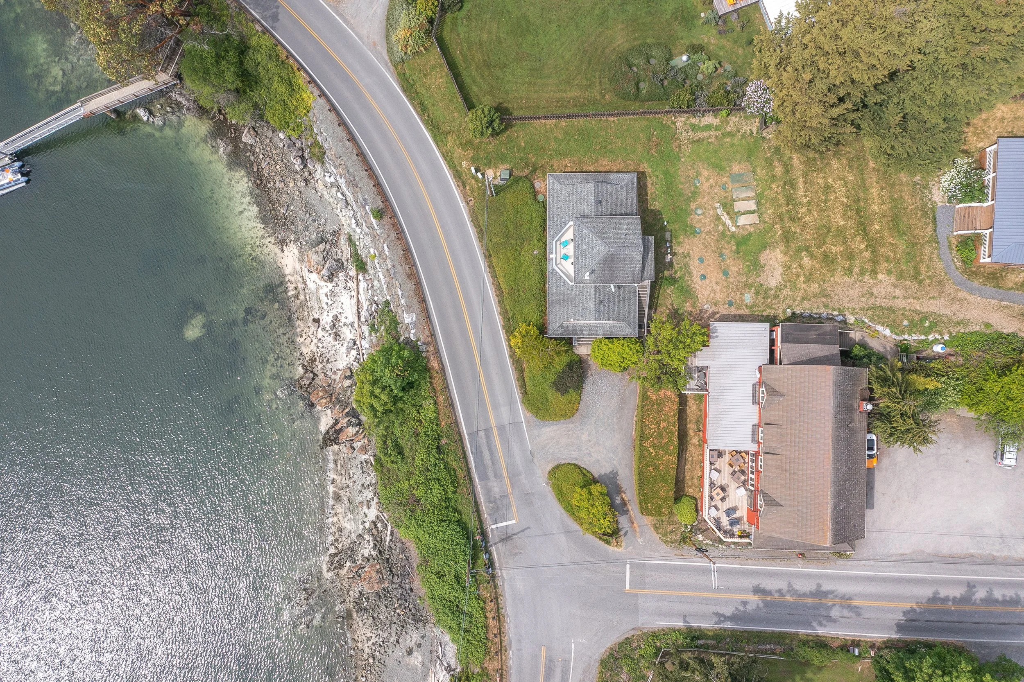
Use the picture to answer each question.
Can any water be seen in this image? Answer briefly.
Yes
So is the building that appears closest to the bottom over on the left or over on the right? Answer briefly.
right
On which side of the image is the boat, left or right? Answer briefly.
left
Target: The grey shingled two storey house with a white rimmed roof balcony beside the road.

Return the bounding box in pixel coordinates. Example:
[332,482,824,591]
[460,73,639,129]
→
[546,172,654,351]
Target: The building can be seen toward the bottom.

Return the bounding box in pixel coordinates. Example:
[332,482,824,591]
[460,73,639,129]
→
[683,322,875,554]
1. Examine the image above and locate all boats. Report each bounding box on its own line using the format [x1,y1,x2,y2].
[0,165,27,189]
